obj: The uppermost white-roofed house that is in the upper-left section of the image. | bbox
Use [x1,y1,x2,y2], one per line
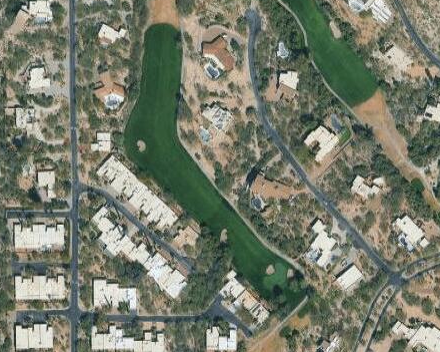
[21,0,54,22]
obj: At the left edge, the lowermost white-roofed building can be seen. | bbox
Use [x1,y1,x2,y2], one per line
[16,323,54,349]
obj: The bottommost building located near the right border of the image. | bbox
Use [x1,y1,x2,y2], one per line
[391,320,440,352]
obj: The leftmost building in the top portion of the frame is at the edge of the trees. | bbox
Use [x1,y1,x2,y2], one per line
[5,108,34,127]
